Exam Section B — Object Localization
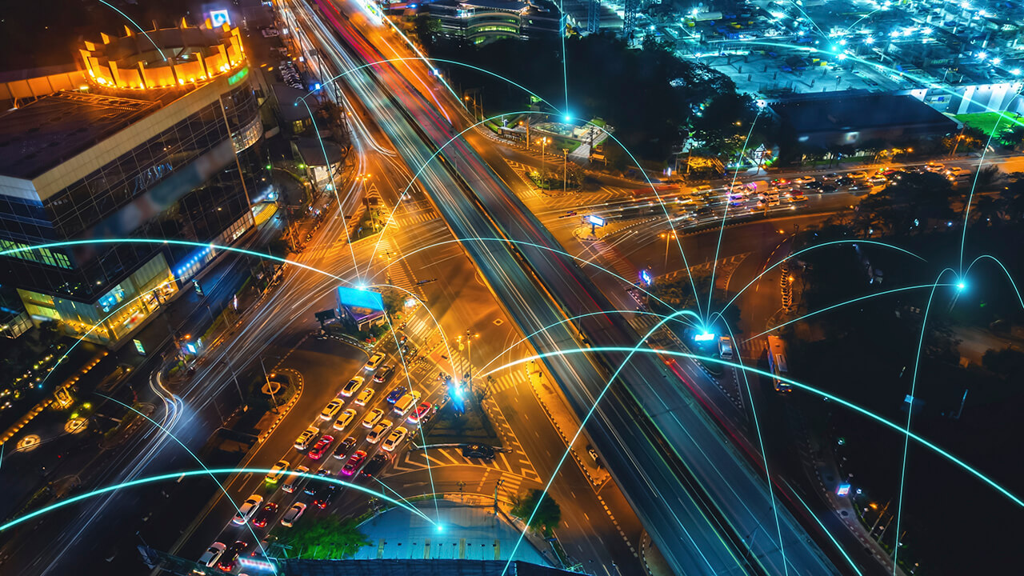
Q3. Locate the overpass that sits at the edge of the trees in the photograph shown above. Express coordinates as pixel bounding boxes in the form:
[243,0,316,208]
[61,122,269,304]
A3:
[296,0,849,576]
